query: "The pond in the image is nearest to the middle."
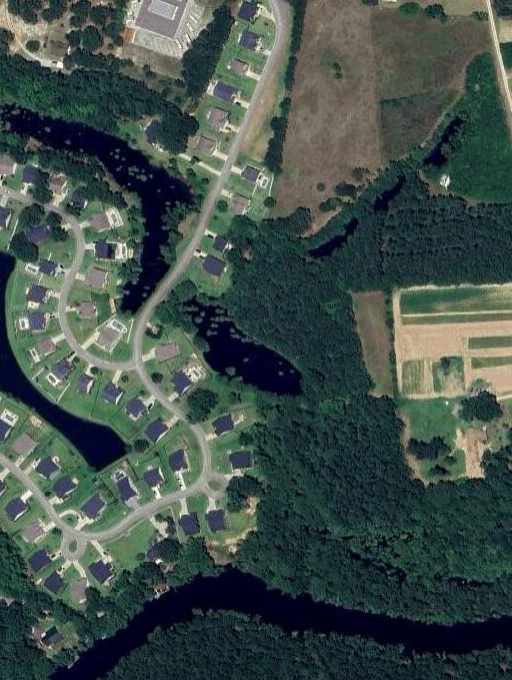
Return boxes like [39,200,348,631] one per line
[182,300,302,398]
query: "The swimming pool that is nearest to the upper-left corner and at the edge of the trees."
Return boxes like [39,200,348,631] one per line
[107,207,121,225]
